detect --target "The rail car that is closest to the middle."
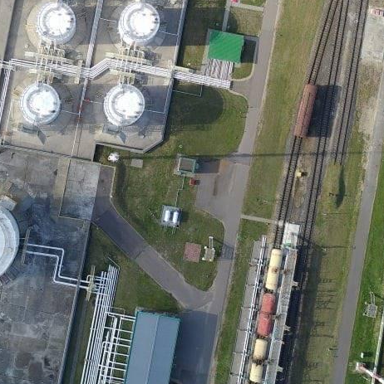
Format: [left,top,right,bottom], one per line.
[265,246,285,291]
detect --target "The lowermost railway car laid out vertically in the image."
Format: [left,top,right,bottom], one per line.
[246,335,267,382]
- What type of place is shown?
industrial area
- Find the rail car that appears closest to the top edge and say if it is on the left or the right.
right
